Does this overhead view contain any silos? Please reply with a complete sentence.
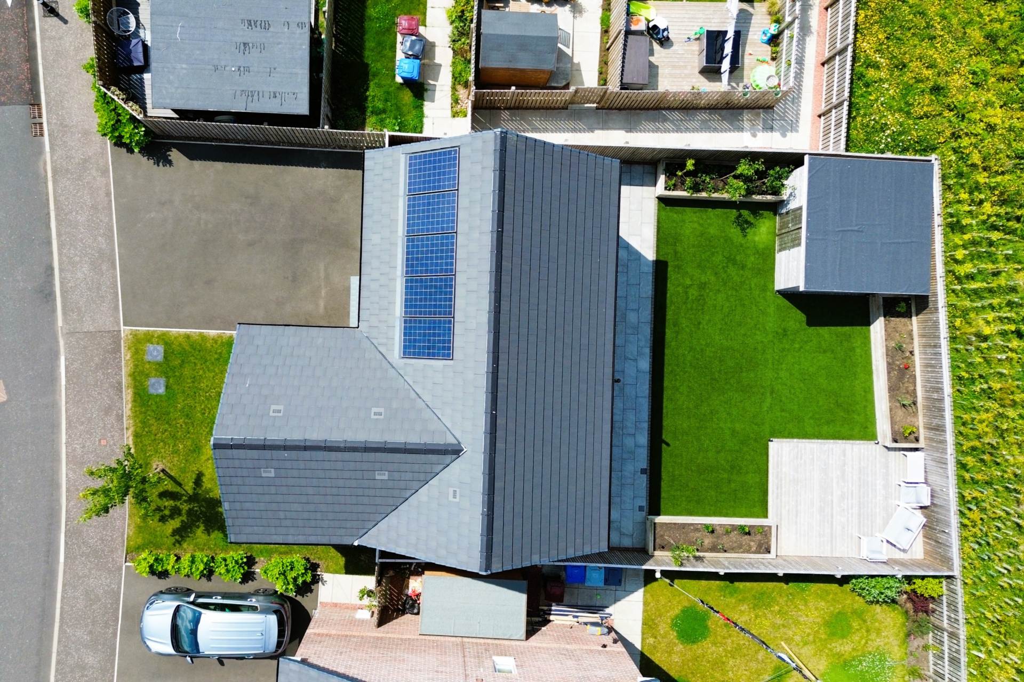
No, no silo can be seen from above.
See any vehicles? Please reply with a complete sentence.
Yes, looking at the shot, I can spot a vehicle.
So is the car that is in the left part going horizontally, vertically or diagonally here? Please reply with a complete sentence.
The car that is in the left part has been laid out horizontally relative to the frame.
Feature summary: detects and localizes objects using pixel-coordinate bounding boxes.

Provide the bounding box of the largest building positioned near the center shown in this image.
[207,128,626,575]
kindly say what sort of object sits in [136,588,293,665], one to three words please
car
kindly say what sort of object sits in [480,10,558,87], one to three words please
shed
